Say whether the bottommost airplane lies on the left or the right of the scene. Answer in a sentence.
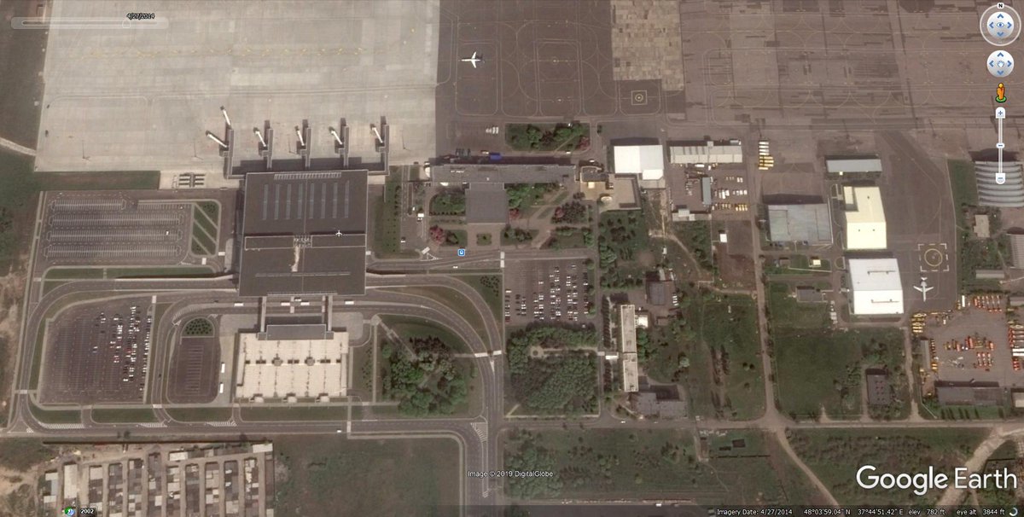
The bottommost airplane sits on the right side.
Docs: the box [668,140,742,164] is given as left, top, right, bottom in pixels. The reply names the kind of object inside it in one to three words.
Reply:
shed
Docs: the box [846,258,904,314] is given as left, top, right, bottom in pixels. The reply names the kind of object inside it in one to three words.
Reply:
hangar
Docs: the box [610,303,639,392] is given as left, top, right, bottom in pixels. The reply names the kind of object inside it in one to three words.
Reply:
building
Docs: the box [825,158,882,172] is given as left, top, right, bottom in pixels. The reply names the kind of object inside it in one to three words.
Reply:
building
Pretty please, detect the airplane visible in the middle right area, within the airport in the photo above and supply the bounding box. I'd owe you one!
[914,279,934,303]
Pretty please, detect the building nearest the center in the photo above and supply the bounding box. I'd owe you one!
[463,183,509,224]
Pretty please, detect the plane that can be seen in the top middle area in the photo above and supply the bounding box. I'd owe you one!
[462,53,484,69]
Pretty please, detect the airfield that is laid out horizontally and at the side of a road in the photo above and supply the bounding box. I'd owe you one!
[35,0,1024,331]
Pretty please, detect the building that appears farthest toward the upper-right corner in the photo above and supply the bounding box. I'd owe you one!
[972,160,1022,209]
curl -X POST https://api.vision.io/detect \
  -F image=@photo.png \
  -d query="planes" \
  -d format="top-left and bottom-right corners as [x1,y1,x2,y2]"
[914,279,934,303]
[462,53,484,69]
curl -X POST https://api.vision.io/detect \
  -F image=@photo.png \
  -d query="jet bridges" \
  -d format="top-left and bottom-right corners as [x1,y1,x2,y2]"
[220,106,232,128]
[294,126,306,148]
[254,127,267,148]
[205,131,228,149]
[370,123,384,145]
[328,126,343,147]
